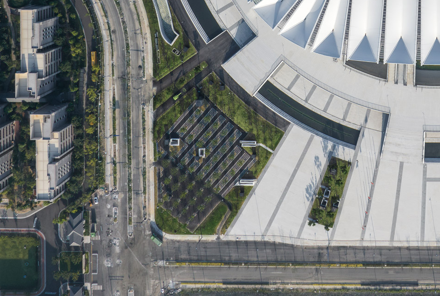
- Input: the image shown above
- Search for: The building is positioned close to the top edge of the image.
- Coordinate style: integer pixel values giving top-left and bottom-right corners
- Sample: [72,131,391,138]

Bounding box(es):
[14,4,63,100]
